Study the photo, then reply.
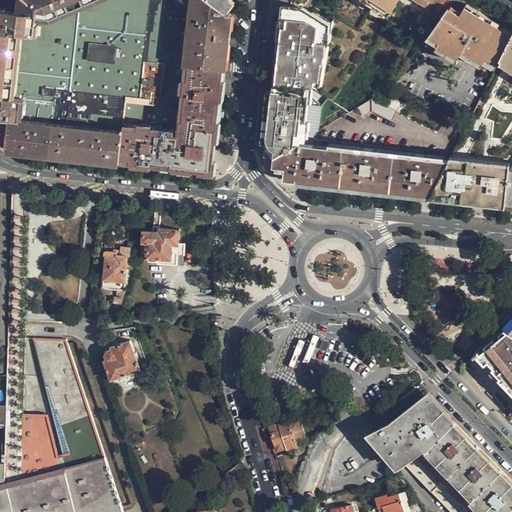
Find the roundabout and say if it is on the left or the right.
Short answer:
right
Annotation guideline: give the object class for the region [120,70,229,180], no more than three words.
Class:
building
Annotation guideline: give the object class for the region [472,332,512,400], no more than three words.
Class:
building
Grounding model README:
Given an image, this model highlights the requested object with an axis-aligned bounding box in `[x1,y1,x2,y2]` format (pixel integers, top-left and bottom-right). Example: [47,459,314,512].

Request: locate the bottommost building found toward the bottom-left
[0,456,126,512]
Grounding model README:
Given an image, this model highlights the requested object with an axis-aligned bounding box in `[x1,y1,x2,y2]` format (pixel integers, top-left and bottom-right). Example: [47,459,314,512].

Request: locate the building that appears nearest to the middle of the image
[140,212,186,265]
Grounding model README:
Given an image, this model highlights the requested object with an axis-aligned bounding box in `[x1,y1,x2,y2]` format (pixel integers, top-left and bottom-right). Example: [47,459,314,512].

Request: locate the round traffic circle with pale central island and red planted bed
[288,224,381,314]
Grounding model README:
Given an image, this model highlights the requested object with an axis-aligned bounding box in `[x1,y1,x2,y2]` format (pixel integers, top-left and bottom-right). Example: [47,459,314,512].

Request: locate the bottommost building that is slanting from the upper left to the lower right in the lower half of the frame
[409,462,456,512]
